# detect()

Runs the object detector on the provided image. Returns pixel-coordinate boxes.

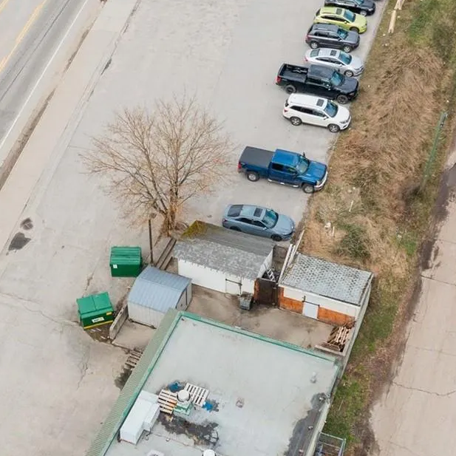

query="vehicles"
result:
[305,21,360,54]
[284,94,350,132]
[304,48,364,77]
[276,62,356,99]
[323,0,376,18]
[236,150,328,194]
[223,207,294,242]
[313,6,367,35]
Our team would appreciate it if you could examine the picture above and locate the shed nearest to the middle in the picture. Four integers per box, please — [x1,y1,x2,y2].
[173,215,276,298]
